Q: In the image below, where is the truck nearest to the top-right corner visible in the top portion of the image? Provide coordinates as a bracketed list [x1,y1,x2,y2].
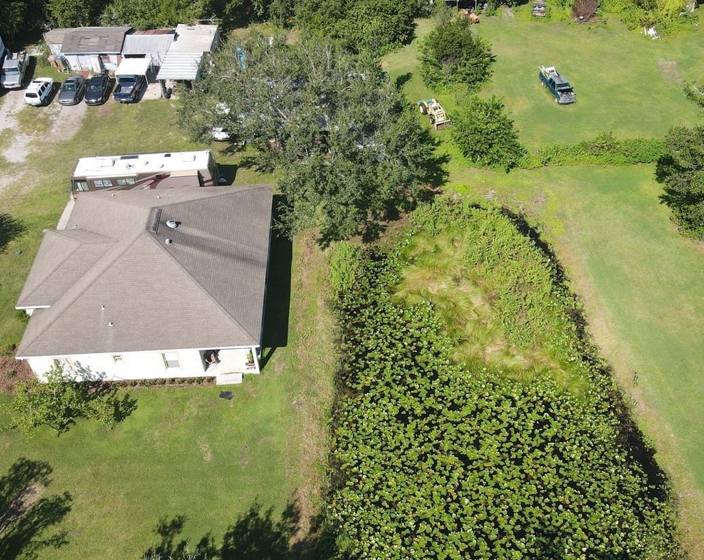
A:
[537,64,579,102]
